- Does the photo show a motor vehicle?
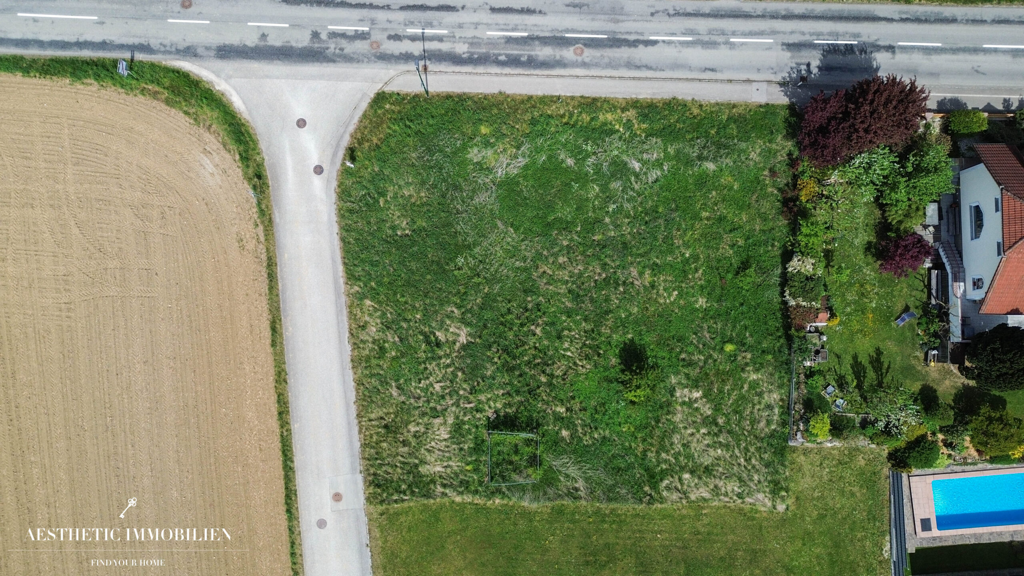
No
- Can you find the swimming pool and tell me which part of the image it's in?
bottom right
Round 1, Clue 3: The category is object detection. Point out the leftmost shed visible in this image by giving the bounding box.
[808,296,830,325]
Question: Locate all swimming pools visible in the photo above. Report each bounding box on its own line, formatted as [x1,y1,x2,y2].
[908,463,1024,541]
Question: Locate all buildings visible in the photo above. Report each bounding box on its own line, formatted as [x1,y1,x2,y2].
[808,296,830,325]
[957,139,1024,316]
